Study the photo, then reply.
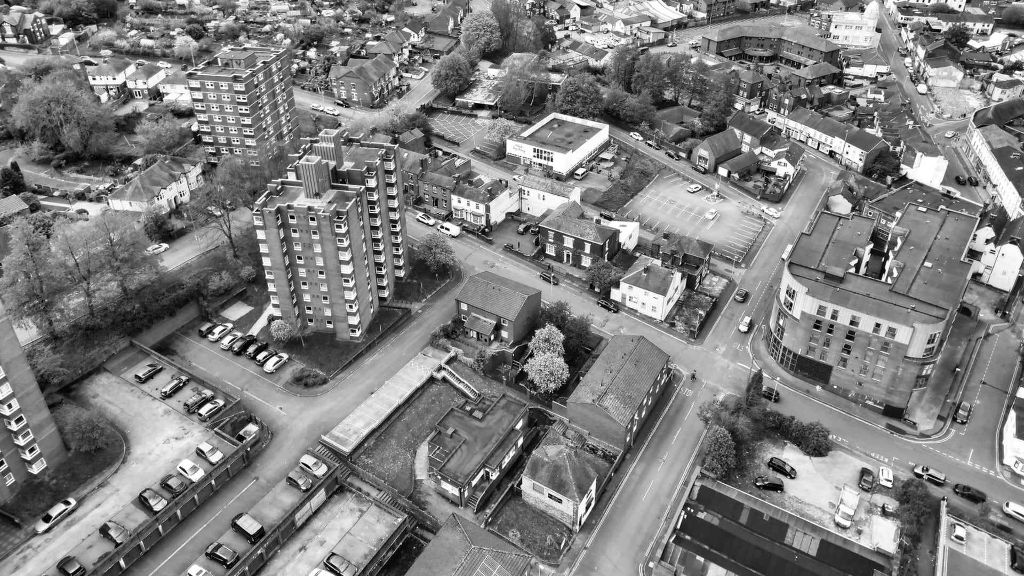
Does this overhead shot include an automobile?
Yes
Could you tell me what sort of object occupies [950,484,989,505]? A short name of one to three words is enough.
car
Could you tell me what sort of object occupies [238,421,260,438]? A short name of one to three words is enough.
vehicle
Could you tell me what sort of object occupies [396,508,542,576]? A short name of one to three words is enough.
house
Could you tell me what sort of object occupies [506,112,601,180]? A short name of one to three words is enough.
building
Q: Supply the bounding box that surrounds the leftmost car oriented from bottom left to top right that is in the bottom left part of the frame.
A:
[39,501,73,531]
